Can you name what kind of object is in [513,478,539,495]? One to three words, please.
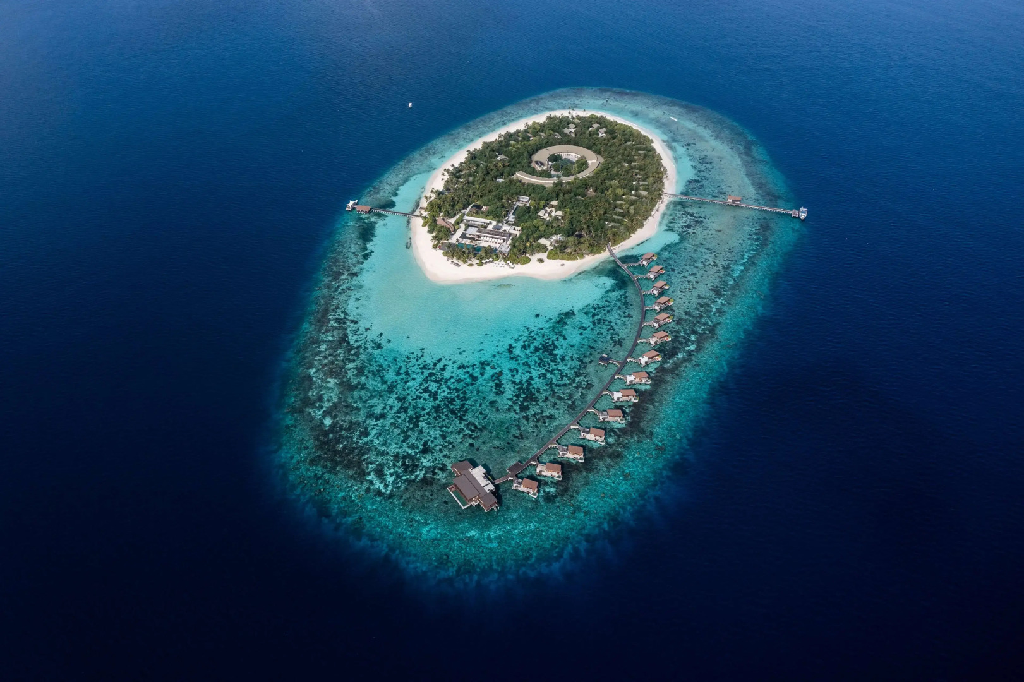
house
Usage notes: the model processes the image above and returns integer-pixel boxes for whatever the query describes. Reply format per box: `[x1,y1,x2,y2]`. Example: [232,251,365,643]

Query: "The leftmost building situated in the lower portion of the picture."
[447,460,499,514]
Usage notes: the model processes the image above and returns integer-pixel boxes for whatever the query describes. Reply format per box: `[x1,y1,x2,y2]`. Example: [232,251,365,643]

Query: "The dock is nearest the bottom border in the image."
[492,243,645,485]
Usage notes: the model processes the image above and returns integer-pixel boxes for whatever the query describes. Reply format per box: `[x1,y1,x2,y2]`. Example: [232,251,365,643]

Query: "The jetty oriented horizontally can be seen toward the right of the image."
[662,193,793,215]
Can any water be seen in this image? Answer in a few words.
Yes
